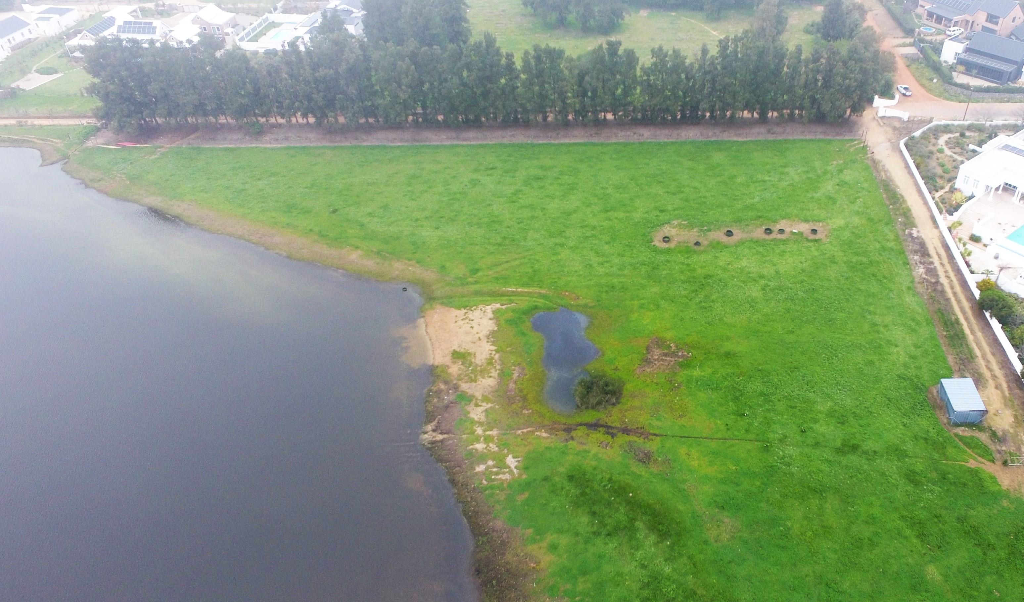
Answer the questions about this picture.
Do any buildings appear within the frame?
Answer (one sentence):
Yes, a building can be made out from above.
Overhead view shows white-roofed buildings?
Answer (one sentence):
Yes, looking at the shot, I can spot a white-roofed building.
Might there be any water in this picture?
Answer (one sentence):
Yes, there is water in the image.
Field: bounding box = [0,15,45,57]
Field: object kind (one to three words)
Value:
house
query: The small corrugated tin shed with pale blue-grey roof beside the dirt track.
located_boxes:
[934,375,989,430]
